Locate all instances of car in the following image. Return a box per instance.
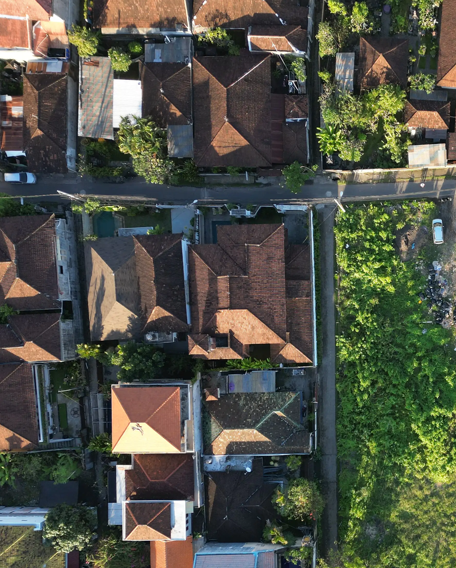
[2,170,35,183]
[432,217,444,243]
